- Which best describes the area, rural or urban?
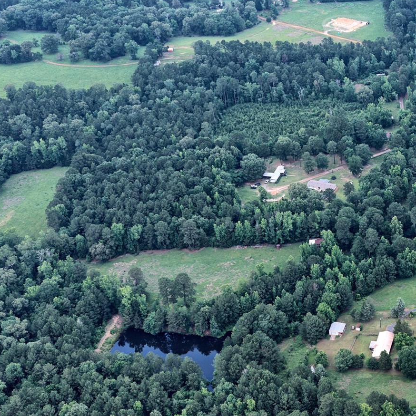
rural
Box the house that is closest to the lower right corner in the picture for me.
[367,330,394,360]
